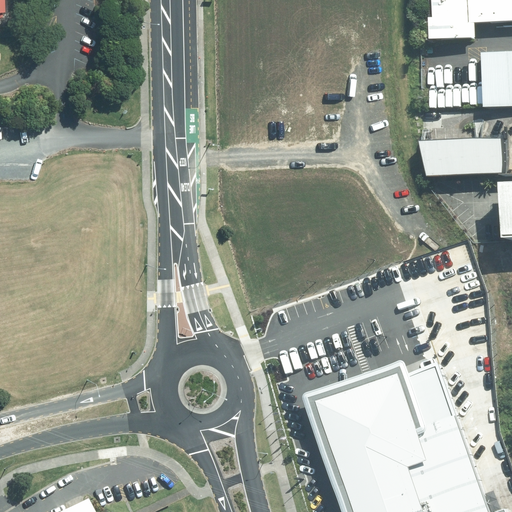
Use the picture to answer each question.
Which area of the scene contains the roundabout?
bottom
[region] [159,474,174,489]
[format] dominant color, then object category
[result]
blue vehicle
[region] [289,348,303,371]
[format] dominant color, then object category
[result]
white vehicle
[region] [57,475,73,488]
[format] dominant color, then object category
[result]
white vehicle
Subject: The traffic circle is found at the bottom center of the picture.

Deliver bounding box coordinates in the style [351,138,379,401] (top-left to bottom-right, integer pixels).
[160,346,246,432]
